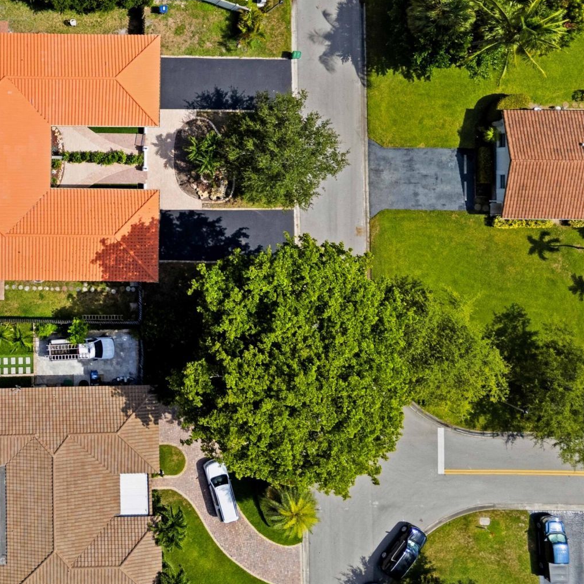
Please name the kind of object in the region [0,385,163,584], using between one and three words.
house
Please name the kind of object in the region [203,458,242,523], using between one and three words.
van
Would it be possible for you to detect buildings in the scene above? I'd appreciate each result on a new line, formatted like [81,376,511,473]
[0,33,160,282]
[488,109,584,221]
[0,385,163,584]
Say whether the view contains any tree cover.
Yes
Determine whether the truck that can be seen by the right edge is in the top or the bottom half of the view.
bottom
